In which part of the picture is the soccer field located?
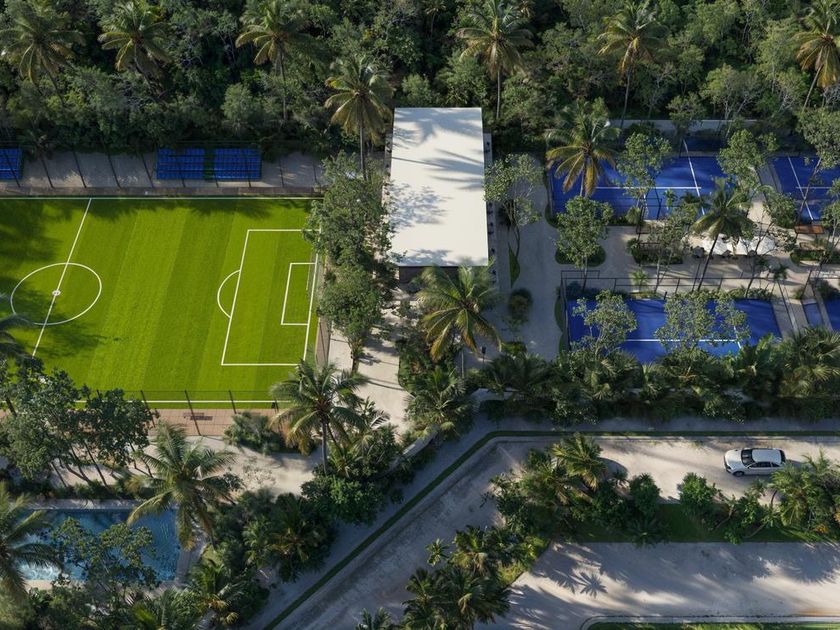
left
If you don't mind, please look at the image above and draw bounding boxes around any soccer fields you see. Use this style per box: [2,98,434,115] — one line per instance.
[0,186,336,435]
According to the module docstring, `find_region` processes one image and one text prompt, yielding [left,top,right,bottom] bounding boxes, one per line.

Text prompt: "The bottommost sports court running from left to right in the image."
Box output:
[563,269,803,380]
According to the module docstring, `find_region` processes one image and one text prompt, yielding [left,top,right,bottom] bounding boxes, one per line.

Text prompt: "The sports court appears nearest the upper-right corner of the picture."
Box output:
[754,127,840,221]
